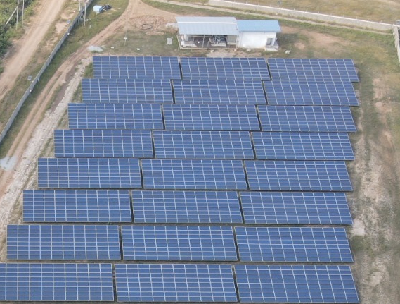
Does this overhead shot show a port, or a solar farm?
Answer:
solar farm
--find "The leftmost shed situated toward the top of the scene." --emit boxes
[174,17,241,50]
